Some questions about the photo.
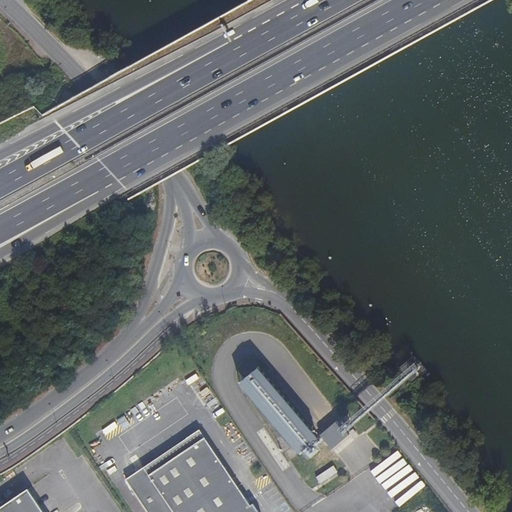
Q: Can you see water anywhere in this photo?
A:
Yes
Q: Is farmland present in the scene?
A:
No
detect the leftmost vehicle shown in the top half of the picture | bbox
[26,146,64,170]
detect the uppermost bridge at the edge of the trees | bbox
[42,0,494,198]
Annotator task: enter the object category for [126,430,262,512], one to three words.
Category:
building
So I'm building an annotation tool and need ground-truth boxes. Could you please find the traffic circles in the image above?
[192,248,232,287]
